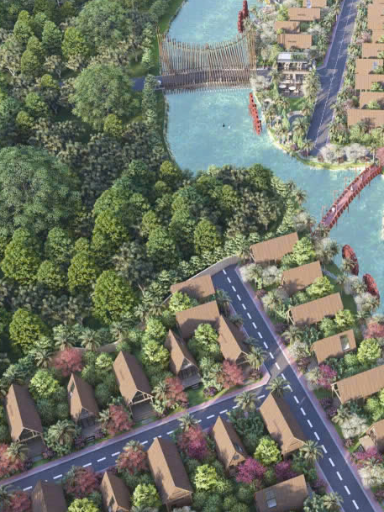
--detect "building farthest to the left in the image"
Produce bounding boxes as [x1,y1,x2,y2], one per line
[5,385,42,455]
